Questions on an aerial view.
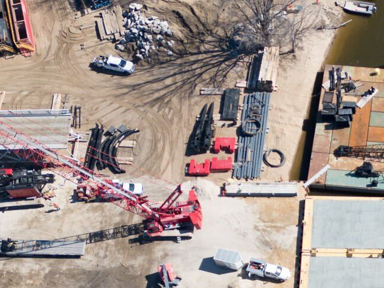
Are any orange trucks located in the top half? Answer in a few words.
No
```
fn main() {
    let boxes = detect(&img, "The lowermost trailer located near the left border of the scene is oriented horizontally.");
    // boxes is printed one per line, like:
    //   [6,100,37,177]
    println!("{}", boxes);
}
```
[0,239,85,260]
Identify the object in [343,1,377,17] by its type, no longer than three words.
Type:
boat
